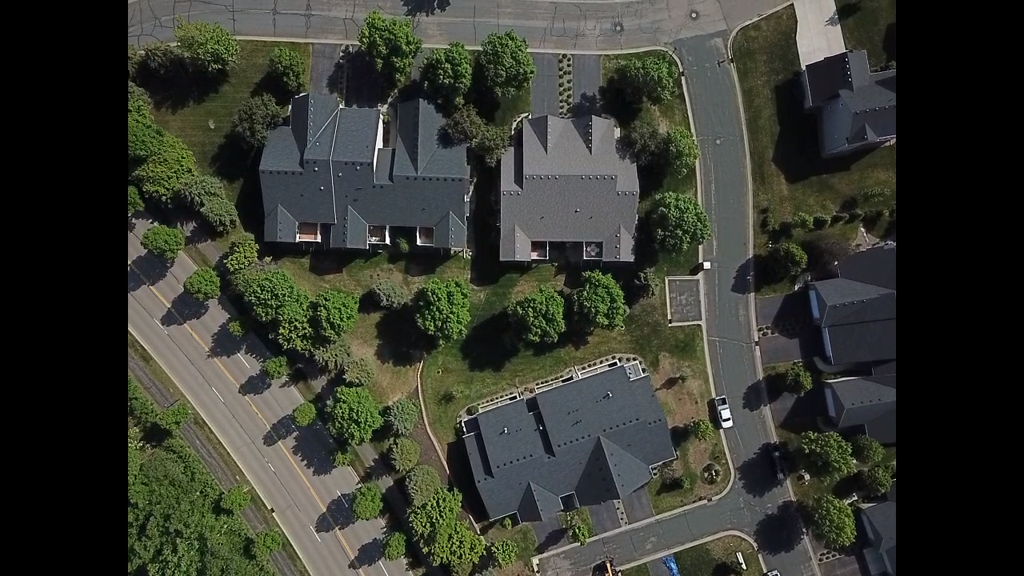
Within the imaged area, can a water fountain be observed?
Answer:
No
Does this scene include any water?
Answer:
No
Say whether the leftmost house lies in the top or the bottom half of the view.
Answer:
top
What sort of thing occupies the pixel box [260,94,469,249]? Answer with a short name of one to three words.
house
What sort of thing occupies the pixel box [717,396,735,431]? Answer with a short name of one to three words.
vehicle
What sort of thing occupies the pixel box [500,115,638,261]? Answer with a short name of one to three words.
house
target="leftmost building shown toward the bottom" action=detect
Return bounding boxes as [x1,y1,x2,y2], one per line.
[462,359,676,523]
